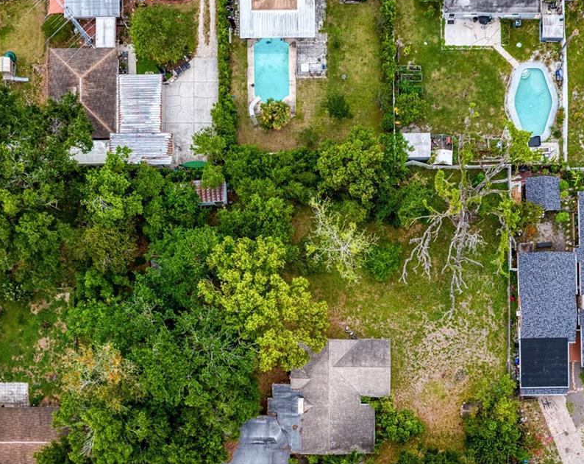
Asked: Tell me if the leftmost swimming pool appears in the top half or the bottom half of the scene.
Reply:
top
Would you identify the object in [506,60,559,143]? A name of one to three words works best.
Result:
swimming pool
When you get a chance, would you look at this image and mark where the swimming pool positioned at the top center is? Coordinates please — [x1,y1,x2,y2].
[248,38,295,116]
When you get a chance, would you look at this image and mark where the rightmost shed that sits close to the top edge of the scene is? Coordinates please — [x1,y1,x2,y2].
[539,15,563,44]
